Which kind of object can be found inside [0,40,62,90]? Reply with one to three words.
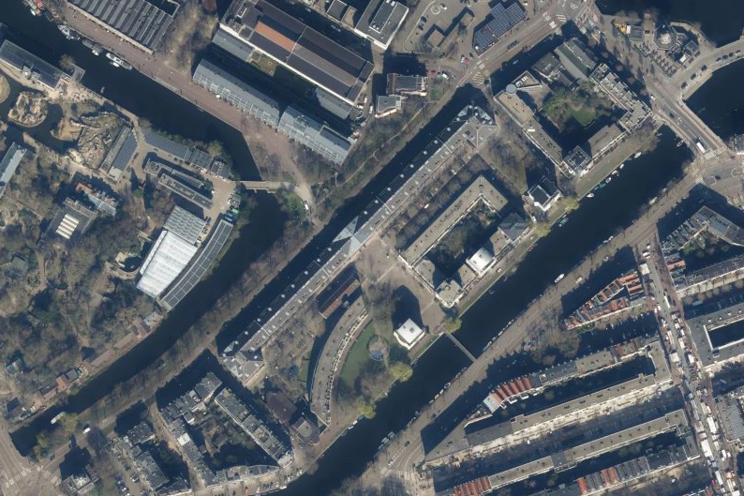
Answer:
building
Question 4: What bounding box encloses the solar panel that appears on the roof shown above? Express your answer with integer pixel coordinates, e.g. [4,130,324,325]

[725,405,744,439]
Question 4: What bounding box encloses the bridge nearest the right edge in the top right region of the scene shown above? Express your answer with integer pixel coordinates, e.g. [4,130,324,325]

[662,100,735,158]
